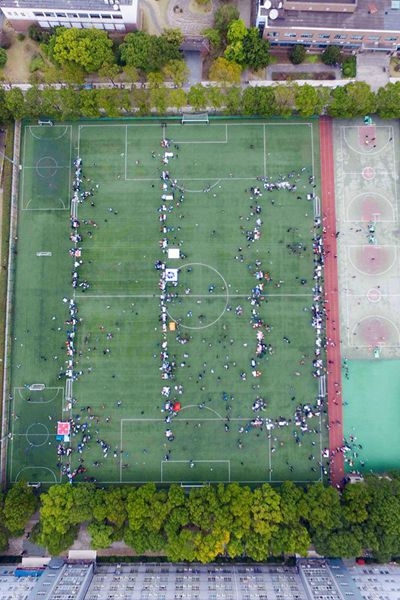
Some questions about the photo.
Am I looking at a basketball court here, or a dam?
basketball court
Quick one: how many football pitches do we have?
three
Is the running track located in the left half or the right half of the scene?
right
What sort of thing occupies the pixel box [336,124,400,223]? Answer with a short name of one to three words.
basketball court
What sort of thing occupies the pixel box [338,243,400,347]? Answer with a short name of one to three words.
basketball court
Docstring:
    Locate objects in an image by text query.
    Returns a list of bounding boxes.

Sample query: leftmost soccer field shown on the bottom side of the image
[11,387,63,483]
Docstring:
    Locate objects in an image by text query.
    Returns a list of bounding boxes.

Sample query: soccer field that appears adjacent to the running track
[67,121,324,485]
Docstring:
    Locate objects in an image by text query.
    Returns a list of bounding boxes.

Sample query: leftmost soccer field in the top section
[20,125,73,210]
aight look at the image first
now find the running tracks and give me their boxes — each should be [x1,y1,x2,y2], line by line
[320,117,344,481]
